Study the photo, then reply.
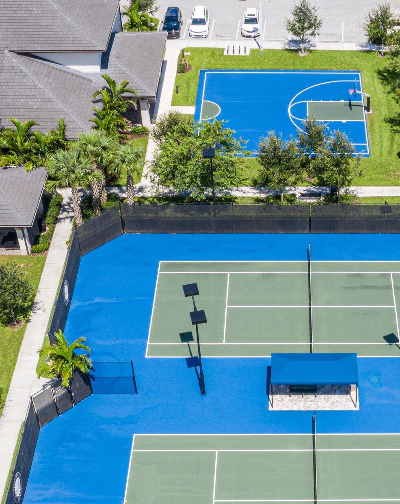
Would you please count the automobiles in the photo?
3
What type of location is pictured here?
sports ground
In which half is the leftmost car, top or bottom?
top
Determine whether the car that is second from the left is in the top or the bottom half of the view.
top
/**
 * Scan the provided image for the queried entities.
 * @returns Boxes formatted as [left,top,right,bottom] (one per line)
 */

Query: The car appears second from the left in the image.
[187,2,210,34]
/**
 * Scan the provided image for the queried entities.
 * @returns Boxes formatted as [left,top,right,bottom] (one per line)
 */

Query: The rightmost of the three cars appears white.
[239,10,260,34]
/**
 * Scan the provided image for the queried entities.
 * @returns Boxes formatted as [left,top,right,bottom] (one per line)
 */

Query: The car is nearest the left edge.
[160,5,181,34]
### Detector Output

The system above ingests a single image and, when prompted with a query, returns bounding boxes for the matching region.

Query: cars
[239,10,260,34]
[187,2,210,34]
[160,5,181,34]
